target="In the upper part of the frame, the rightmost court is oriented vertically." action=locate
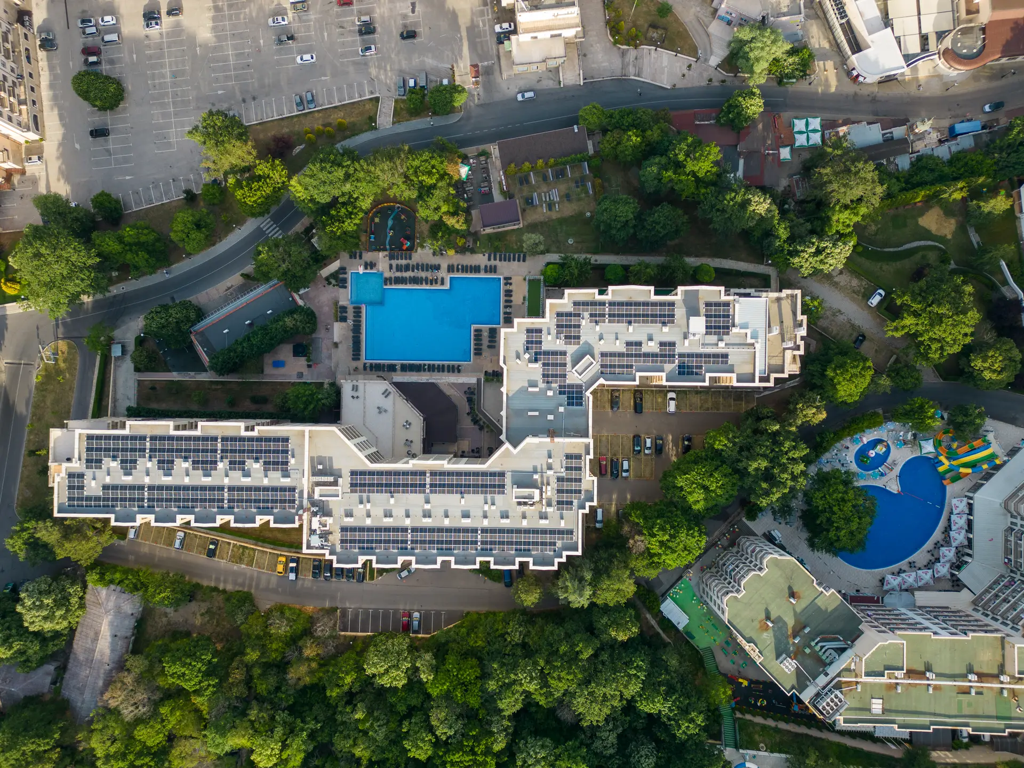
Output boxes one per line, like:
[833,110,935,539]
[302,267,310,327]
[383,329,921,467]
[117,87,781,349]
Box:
[525,274,544,318]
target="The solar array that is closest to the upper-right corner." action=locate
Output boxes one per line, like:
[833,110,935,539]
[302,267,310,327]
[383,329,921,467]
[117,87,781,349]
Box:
[702,302,730,336]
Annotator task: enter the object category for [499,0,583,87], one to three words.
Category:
building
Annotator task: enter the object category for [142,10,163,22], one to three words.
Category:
vehicle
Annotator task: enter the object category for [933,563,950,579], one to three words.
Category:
umbrella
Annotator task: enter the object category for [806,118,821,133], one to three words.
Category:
umbrella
